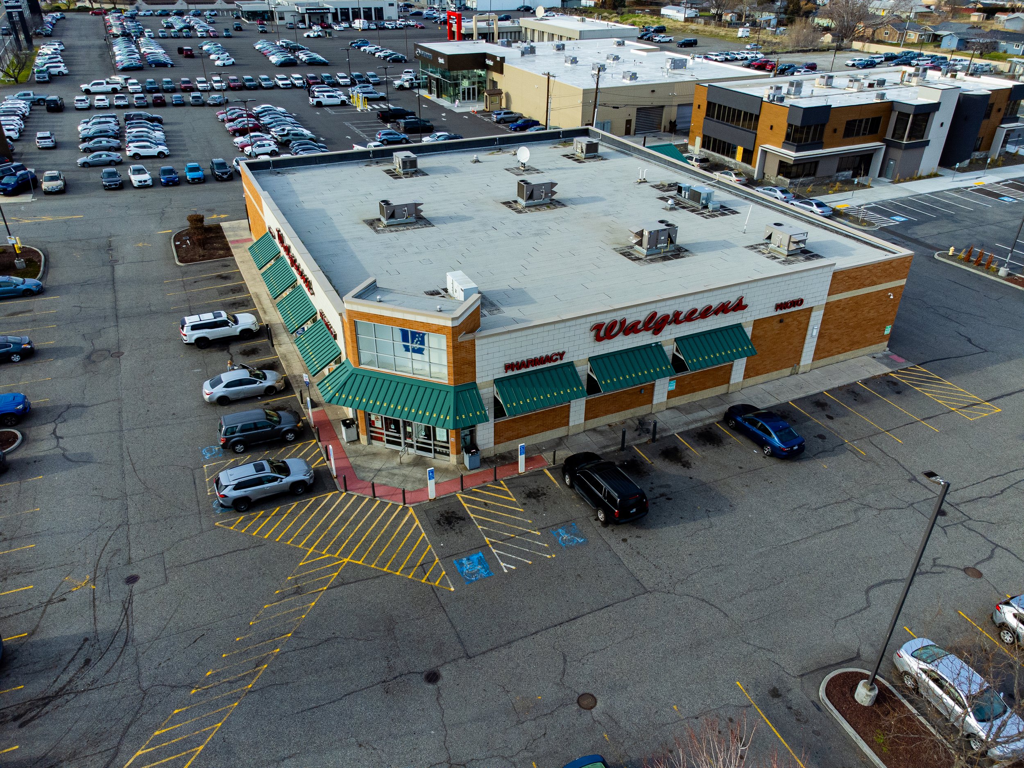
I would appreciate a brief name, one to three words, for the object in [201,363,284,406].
car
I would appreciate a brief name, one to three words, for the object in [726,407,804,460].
car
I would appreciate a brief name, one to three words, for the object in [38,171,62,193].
truck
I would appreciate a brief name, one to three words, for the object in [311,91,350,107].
vehicle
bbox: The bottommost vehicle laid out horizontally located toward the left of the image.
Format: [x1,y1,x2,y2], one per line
[215,459,314,512]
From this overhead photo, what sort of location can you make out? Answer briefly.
parking lot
